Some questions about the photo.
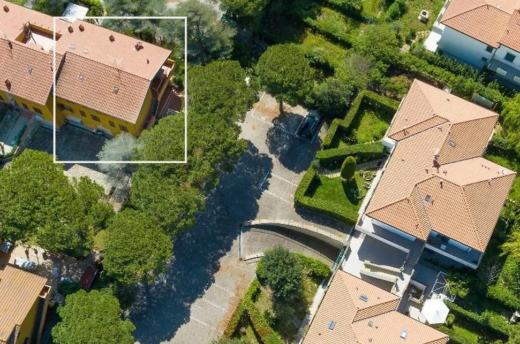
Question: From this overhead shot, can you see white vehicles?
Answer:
No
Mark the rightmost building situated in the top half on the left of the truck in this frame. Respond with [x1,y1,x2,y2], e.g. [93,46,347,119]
[54,18,180,140]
